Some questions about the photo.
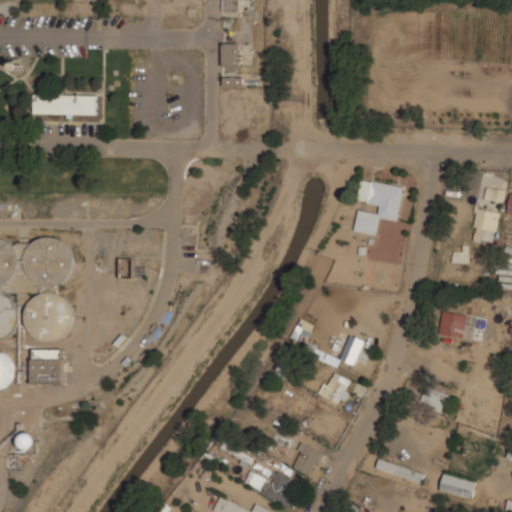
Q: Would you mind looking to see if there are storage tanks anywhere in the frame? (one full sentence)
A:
Yes, there's a storage tank here.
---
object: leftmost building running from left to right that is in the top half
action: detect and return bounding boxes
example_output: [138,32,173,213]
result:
[32,95,98,121]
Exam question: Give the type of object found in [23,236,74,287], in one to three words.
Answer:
storage tank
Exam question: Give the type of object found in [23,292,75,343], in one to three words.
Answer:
storage tank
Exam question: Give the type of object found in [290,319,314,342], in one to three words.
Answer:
house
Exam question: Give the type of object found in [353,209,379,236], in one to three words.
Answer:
building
